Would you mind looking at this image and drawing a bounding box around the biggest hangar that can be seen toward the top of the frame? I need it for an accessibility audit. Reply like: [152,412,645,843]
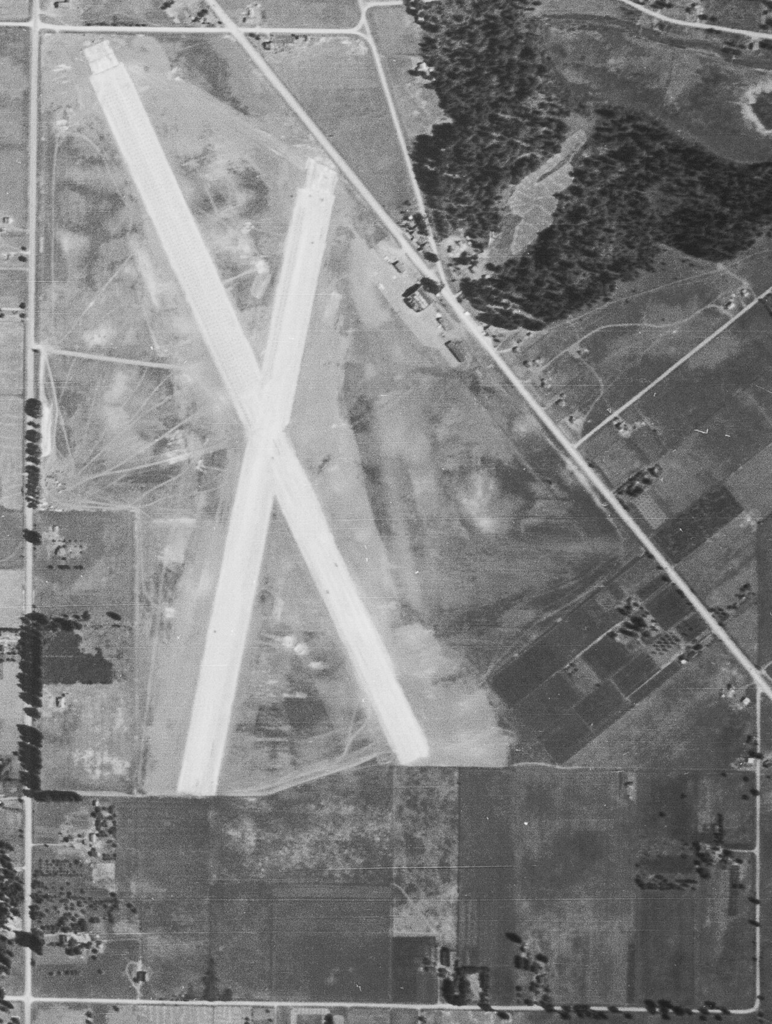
[406,284,434,312]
